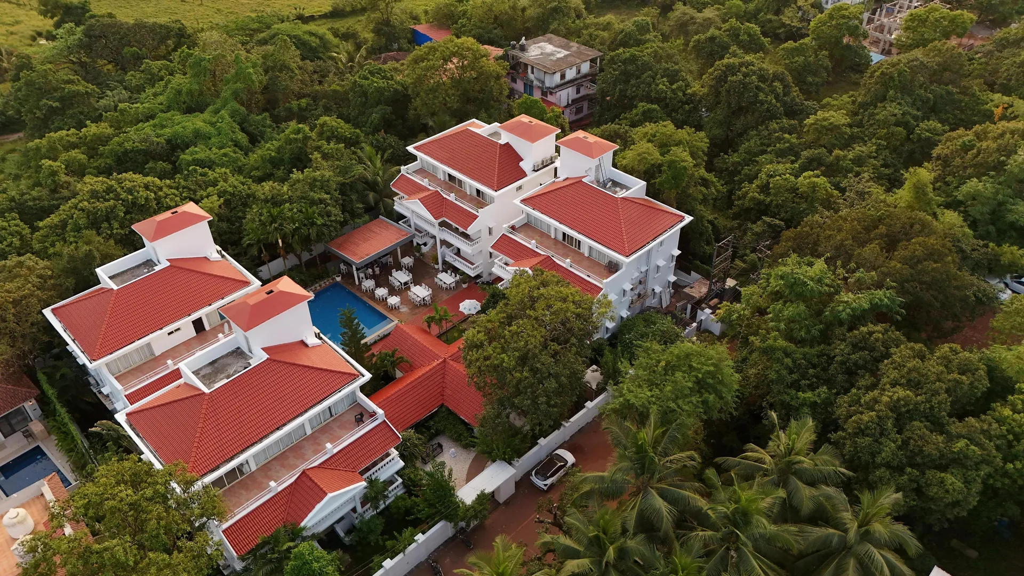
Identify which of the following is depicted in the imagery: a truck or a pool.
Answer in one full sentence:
Of the two, only a pool appears.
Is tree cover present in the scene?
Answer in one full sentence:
Yes, tree cover can be seen from above here.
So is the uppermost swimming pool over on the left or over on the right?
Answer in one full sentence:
You can find the uppermost swimming pool on the left side of the picture.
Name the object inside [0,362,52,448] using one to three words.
house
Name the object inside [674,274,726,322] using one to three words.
shed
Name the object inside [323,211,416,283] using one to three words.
building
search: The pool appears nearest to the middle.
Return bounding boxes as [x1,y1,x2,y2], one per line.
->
[309,281,391,350]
